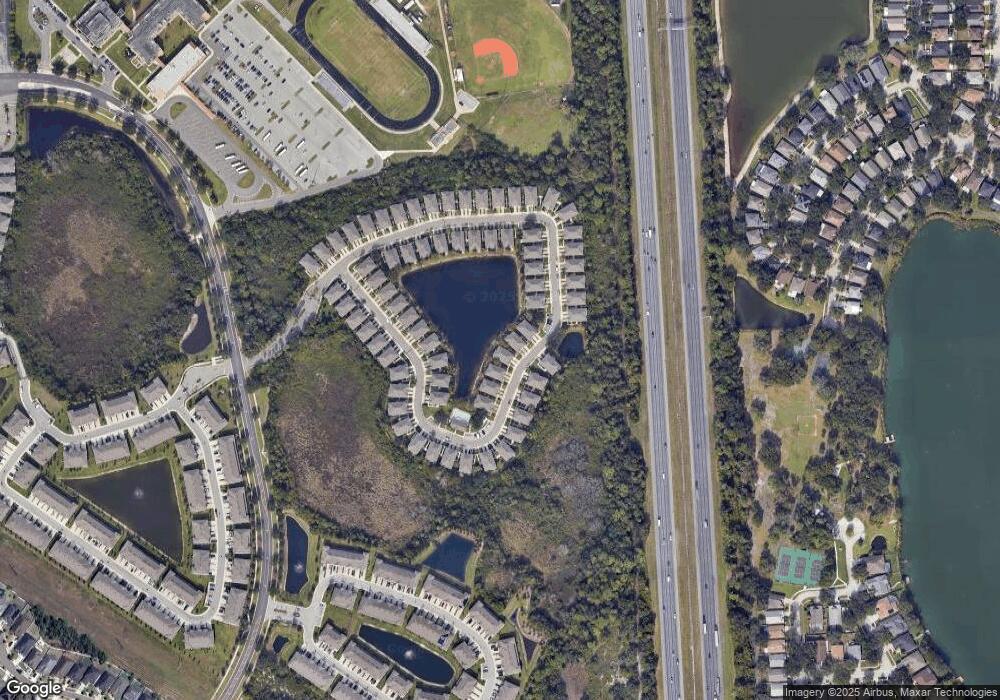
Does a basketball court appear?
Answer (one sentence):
No, the frame has no basketball court in it.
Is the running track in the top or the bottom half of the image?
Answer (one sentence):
The running track is in the top half of the image.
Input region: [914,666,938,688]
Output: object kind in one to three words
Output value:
house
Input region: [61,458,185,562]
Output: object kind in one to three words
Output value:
pond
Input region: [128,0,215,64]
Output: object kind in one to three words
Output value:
building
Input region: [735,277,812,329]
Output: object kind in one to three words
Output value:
pond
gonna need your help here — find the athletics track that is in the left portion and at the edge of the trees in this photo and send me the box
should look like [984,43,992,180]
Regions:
[291,0,445,136]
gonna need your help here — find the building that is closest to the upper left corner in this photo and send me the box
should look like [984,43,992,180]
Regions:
[73,0,123,47]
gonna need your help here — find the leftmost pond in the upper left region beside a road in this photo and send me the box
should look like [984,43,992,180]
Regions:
[26,106,186,229]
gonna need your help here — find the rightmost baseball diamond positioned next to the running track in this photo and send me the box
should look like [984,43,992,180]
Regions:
[473,0,573,84]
